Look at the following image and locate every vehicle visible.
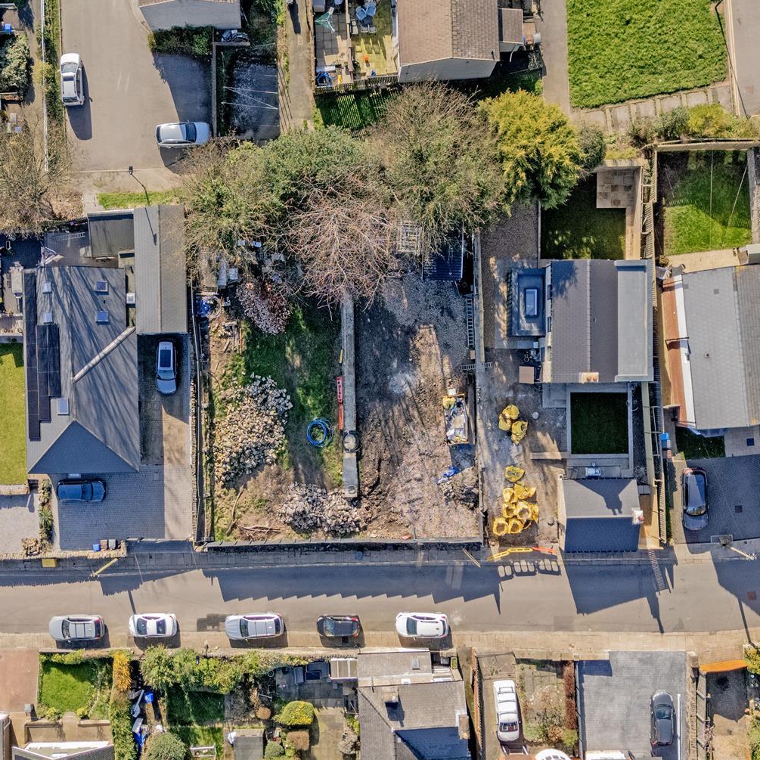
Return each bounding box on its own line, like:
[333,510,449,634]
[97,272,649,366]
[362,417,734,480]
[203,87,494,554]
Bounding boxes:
[55,478,108,504]
[649,688,677,746]
[317,614,361,639]
[225,613,284,643]
[49,614,107,644]
[493,676,522,741]
[680,472,711,528]
[395,610,448,639]
[55,54,84,108]
[156,120,209,147]
[128,613,177,640]
[151,340,178,394]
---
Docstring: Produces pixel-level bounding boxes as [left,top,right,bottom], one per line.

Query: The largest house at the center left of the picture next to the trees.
[8,267,140,478]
